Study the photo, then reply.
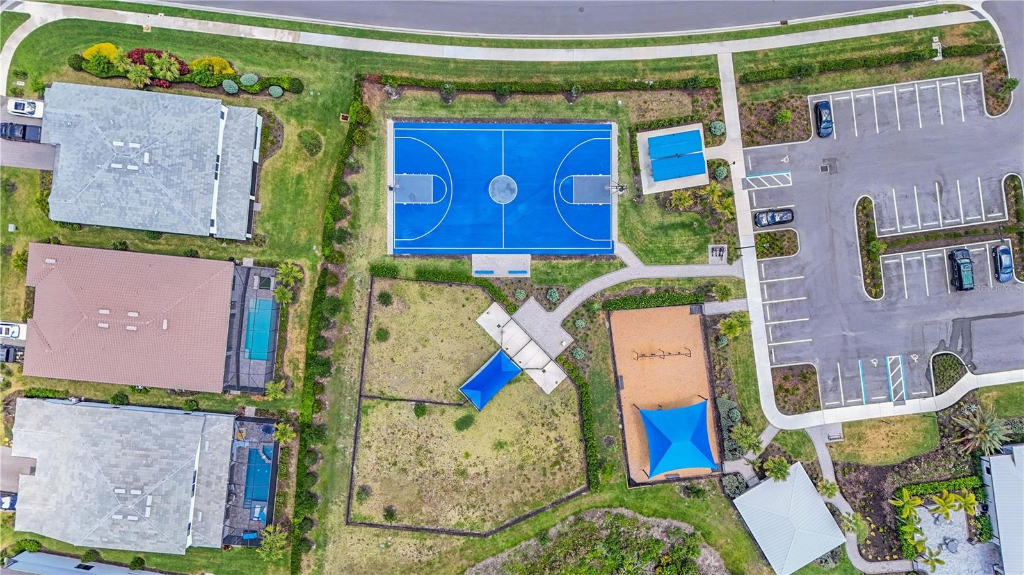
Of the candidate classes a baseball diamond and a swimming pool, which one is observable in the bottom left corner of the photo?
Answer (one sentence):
You can see a swimming pool in the bottom left corner of the photo.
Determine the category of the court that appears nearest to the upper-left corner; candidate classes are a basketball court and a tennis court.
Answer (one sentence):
The court that appears nearest to the upper-left corner appears to be a basketball court.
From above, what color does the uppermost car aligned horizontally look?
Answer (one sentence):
The color of the uppermost car aligned horizontally is white.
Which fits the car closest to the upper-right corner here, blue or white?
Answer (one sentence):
The car closest to the upper-right corner looks blue in the image.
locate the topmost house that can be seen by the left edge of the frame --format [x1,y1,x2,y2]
[41,82,262,240]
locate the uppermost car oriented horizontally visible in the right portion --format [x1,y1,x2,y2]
[753,208,794,227]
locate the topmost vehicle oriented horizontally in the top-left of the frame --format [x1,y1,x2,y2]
[2,98,44,119]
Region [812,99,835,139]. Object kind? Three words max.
car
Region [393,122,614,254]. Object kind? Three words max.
basketball court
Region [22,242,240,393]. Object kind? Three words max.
house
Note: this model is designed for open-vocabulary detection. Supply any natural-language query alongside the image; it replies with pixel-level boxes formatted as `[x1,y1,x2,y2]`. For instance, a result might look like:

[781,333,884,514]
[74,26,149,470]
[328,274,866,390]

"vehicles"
[0,492,17,511]
[0,122,42,142]
[948,250,975,291]
[0,346,25,363]
[0,322,27,340]
[990,245,1014,281]
[2,98,44,119]
[812,99,835,139]
[753,208,794,227]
